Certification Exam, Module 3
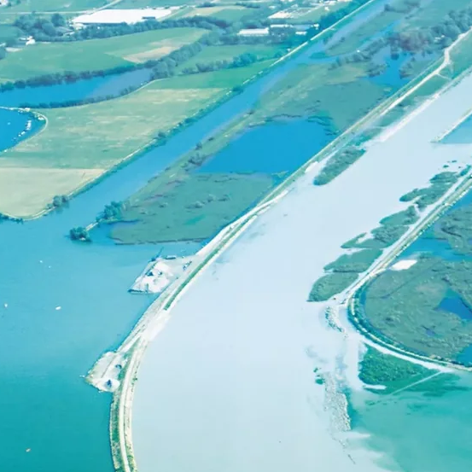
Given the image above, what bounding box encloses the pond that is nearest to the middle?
[198,117,330,173]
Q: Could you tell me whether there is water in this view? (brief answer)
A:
Yes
